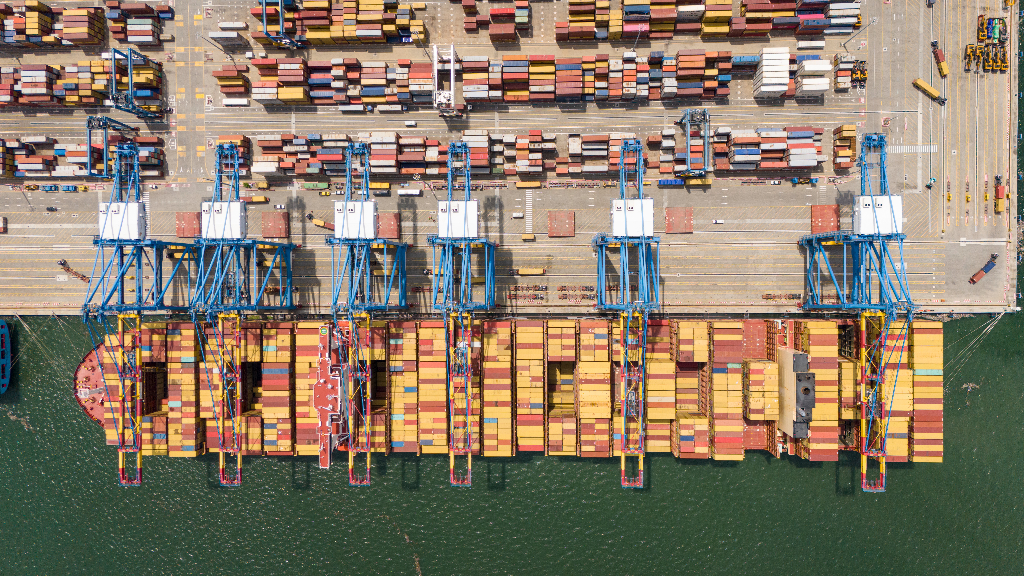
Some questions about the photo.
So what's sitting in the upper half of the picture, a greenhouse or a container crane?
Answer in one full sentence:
What appears in the upper half of the picture is a container crane.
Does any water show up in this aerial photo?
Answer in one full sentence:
Yes, water can be seen from above here.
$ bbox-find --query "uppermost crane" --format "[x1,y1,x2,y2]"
[260,0,304,51]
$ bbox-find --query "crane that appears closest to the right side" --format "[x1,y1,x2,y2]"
[798,132,917,496]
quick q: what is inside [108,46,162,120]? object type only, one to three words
container crane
